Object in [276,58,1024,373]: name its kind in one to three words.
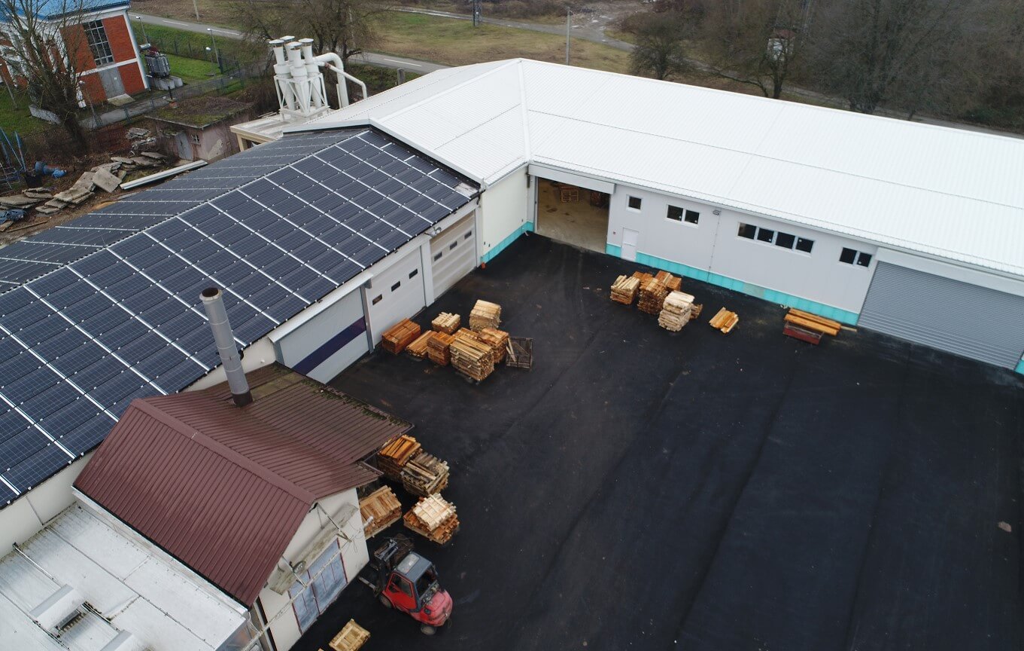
building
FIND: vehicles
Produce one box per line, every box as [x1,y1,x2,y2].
[358,535,459,632]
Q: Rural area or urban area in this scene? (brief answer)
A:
urban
